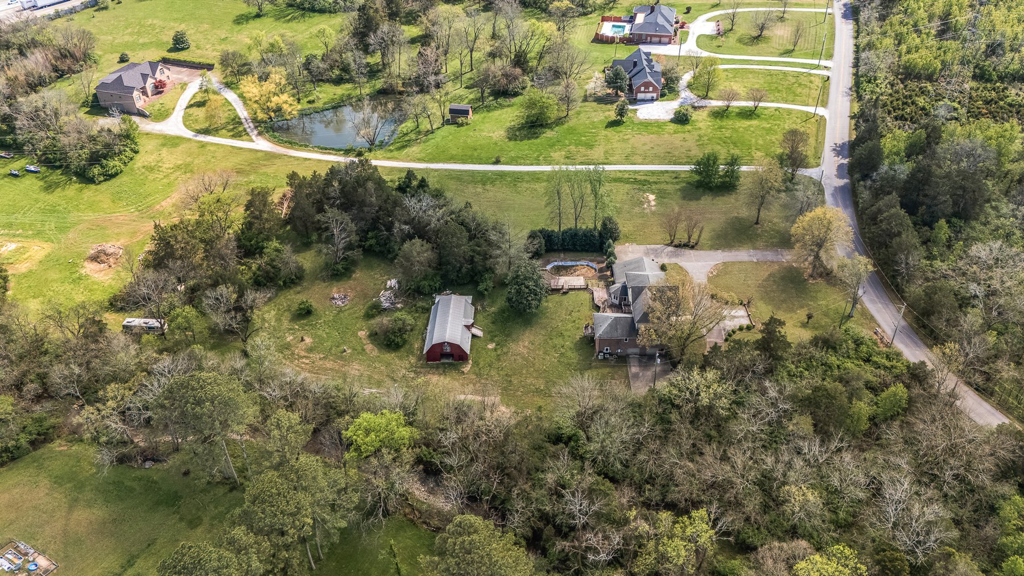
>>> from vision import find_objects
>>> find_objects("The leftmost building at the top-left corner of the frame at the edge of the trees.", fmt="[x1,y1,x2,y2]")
[83,60,174,117]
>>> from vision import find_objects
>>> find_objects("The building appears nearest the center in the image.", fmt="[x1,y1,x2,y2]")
[424,293,483,362]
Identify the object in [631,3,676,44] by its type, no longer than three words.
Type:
house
